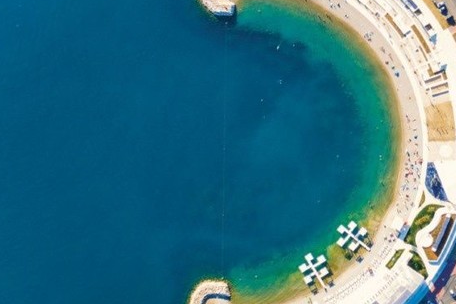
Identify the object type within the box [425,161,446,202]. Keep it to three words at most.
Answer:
swimming pool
